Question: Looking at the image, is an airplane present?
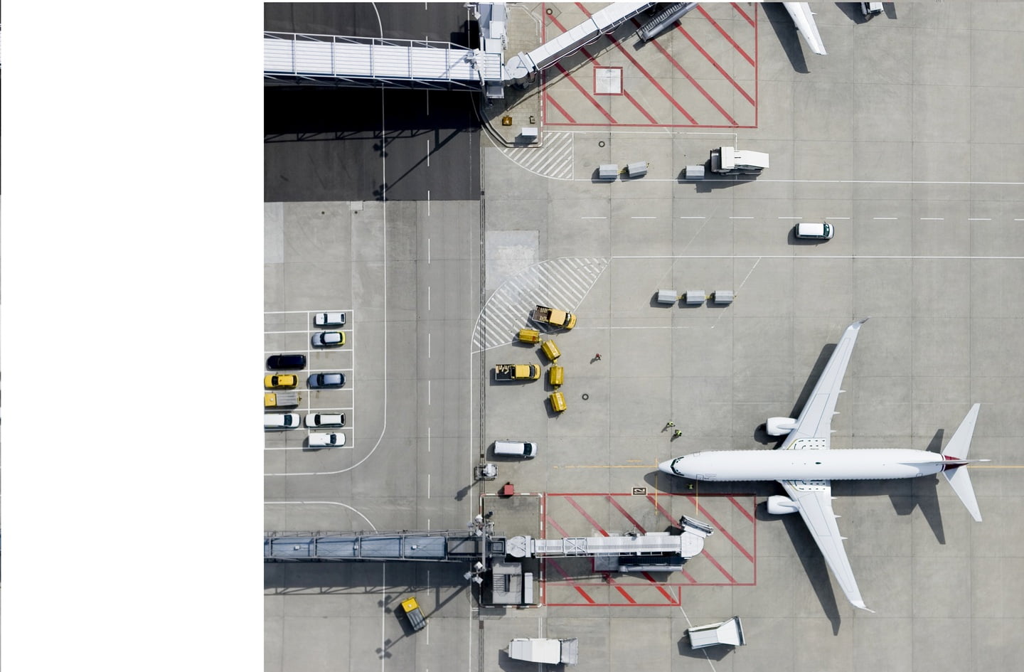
Yes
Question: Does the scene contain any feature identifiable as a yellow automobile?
Yes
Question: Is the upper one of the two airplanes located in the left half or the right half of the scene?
right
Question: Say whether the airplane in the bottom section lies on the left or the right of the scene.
right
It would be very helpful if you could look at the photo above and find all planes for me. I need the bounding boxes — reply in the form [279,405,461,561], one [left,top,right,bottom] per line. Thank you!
[658,316,990,612]
[780,0,820,55]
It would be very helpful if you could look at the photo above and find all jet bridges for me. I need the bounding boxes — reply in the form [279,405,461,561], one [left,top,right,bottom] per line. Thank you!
[506,0,709,90]
[507,517,715,572]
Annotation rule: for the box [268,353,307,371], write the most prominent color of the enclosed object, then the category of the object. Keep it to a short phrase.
black car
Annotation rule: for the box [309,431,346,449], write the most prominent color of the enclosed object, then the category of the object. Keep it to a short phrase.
white vehicle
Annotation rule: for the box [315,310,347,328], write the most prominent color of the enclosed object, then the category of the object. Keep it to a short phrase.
white car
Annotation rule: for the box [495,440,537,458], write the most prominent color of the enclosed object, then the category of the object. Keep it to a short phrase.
white vehicle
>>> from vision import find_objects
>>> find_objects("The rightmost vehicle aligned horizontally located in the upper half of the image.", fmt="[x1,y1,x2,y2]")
[795,222,833,240]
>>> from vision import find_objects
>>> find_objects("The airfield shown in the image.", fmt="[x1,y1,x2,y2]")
[265,0,1024,672]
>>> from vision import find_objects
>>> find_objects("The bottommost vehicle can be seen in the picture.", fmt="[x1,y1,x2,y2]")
[400,596,428,631]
